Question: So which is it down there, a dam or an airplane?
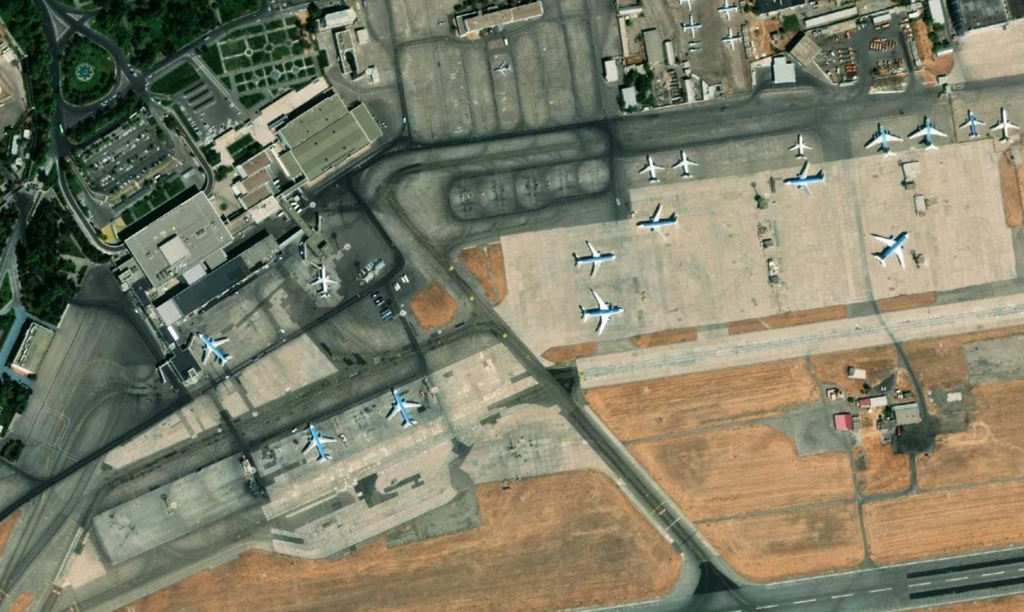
airplane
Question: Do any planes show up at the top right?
Yes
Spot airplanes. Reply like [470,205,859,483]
[790,134,812,159]
[784,162,827,196]
[718,0,737,20]
[581,291,624,334]
[870,231,908,269]
[993,108,1019,143]
[303,425,336,463]
[913,119,948,149]
[641,156,664,183]
[574,241,615,277]
[199,334,231,366]
[388,390,420,428]
[674,151,698,177]
[721,28,742,50]
[962,111,986,138]
[495,63,512,74]
[869,126,904,155]
[637,204,680,239]
[311,265,337,297]
[684,15,701,37]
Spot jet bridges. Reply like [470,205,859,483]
[317,216,325,231]
[157,359,172,384]
[304,243,321,269]
[185,334,195,348]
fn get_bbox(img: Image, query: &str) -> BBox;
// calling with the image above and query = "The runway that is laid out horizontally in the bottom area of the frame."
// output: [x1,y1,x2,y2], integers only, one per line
[580,547,1024,612]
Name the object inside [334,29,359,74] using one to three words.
building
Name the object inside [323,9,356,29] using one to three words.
hangar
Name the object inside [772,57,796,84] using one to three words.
hangar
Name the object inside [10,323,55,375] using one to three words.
building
